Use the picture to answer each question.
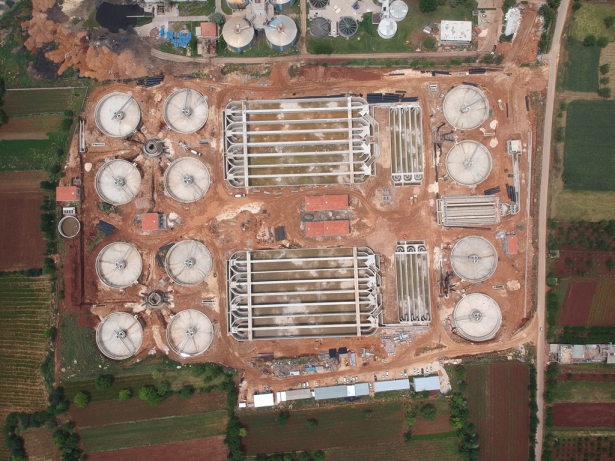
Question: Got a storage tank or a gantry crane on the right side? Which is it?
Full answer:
You can see a storage tank on the right side.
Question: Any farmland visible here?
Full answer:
Yes, the picture does contain farmland.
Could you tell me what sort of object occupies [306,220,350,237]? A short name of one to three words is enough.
building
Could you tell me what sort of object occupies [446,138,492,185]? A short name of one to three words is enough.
storage tank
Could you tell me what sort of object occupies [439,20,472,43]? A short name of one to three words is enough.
building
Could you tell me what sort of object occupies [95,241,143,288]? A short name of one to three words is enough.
storage tank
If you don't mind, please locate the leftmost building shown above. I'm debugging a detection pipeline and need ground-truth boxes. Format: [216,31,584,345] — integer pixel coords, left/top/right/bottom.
[55,187,82,201]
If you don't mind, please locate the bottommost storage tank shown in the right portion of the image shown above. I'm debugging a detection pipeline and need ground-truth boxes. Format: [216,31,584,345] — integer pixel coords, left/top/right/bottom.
[452,293,502,342]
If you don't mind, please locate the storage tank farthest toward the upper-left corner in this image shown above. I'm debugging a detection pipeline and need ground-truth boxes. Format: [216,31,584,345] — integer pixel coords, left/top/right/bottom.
[94,92,142,139]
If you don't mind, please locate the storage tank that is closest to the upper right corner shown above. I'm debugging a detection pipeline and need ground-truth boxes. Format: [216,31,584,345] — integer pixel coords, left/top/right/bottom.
[443,85,489,131]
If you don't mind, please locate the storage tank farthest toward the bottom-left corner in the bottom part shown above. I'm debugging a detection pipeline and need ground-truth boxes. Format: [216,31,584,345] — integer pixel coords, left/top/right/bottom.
[95,312,144,359]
